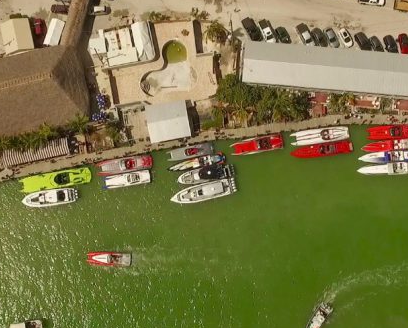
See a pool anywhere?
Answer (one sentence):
Yes, you can see a pool in this photo.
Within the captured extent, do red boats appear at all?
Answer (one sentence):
Yes, the photo shows a red boat.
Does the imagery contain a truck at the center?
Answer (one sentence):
No, no truck can be made out at the center.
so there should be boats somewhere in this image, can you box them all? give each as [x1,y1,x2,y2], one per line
[177,163,233,185]
[228,133,286,156]
[102,169,154,190]
[170,175,238,202]
[357,161,408,175]
[86,251,135,266]
[21,187,79,206]
[290,141,355,158]
[168,150,229,170]
[289,126,353,148]
[166,141,219,164]
[358,149,408,163]
[97,153,155,174]
[307,304,332,328]
[19,165,96,193]
[361,138,408,152]
[366,126,408,140]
